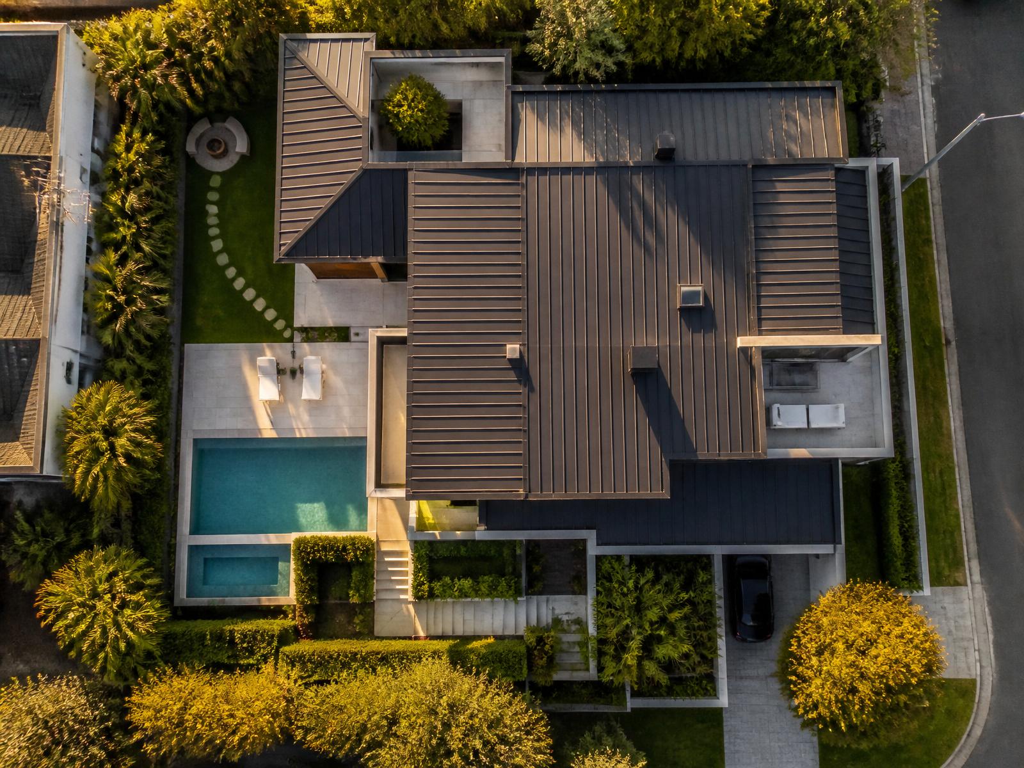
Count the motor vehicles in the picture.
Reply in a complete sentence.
Altogether the scene contains 1 motor vehicle.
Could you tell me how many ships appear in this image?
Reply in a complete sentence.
No ships are visible.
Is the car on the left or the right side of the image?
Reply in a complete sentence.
The car sits on the right side.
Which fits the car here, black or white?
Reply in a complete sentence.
From above, the car appears black.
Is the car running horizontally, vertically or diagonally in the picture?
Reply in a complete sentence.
The car runs vertically in the image.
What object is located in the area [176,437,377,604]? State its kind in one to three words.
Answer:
swimming pool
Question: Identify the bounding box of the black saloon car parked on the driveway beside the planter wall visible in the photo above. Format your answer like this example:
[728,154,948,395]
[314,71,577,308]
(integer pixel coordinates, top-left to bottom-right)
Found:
[731,553,774,645]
